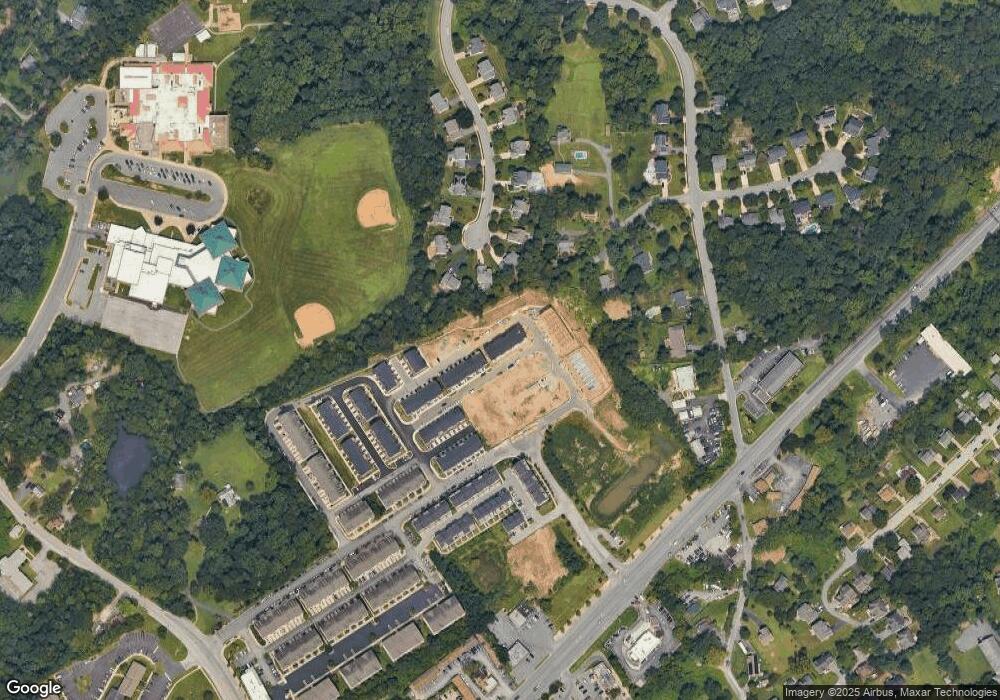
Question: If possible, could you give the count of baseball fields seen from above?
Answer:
2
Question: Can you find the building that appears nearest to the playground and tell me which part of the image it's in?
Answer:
top left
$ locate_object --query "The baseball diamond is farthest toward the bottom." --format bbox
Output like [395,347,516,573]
[294,272,366,347]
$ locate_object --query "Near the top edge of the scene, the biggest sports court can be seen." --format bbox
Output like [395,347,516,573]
[148,2,207,56]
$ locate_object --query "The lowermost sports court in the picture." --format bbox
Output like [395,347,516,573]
[102,296,188,351]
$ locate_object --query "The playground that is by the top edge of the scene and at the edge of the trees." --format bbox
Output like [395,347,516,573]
[218,5,241,31]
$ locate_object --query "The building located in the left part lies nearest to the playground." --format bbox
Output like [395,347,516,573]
[114,62,229,153]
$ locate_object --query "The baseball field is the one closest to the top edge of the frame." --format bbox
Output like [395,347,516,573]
[322,150,400,231]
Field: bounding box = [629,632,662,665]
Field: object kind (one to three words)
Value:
building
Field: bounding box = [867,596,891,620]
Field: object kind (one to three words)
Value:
house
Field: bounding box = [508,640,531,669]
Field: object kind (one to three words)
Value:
building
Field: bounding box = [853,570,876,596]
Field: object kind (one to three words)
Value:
house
